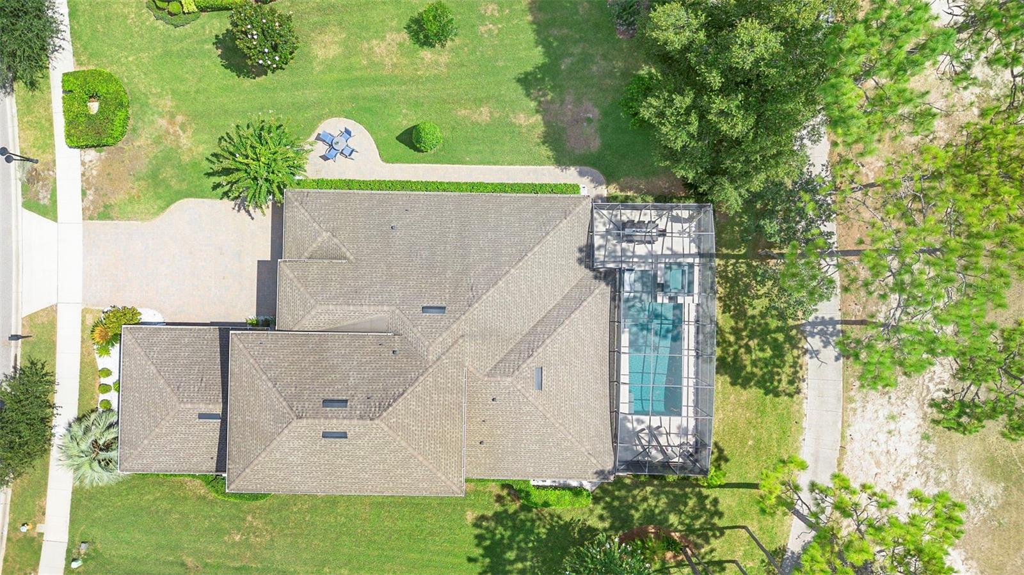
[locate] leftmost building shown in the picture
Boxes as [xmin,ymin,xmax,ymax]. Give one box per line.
[117,189,618,498]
